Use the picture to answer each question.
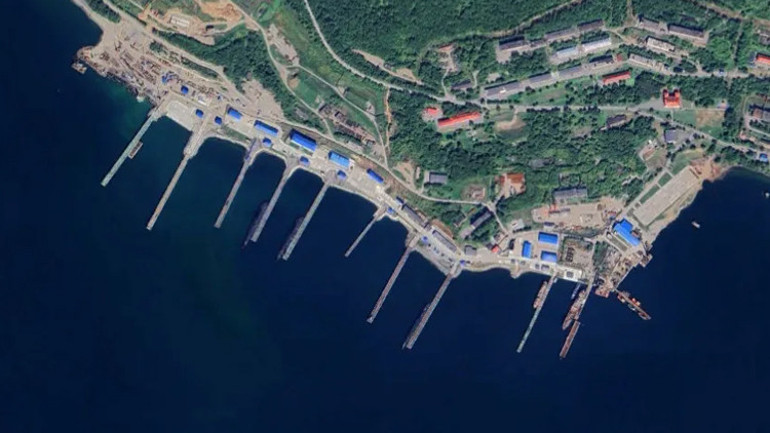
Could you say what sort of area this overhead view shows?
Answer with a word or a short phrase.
port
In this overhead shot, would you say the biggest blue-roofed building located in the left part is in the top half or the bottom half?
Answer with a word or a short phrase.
top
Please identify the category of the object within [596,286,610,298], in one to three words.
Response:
ship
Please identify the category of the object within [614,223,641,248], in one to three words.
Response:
building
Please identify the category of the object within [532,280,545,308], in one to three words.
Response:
ship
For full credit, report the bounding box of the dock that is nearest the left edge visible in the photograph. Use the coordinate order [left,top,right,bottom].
[102,113,156,186]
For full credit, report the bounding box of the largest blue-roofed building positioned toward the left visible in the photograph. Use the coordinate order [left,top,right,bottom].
[288,128,318,150]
